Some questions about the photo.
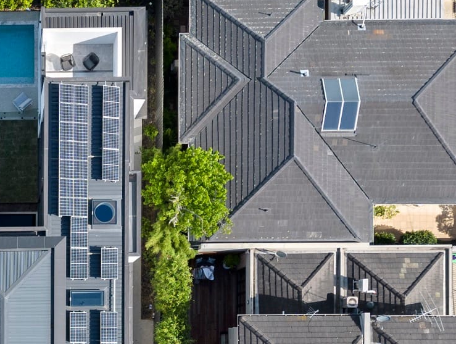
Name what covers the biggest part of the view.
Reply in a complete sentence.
The bulk of the photo consists of buildings.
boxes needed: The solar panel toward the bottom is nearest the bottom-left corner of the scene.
[69,312,87,343]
